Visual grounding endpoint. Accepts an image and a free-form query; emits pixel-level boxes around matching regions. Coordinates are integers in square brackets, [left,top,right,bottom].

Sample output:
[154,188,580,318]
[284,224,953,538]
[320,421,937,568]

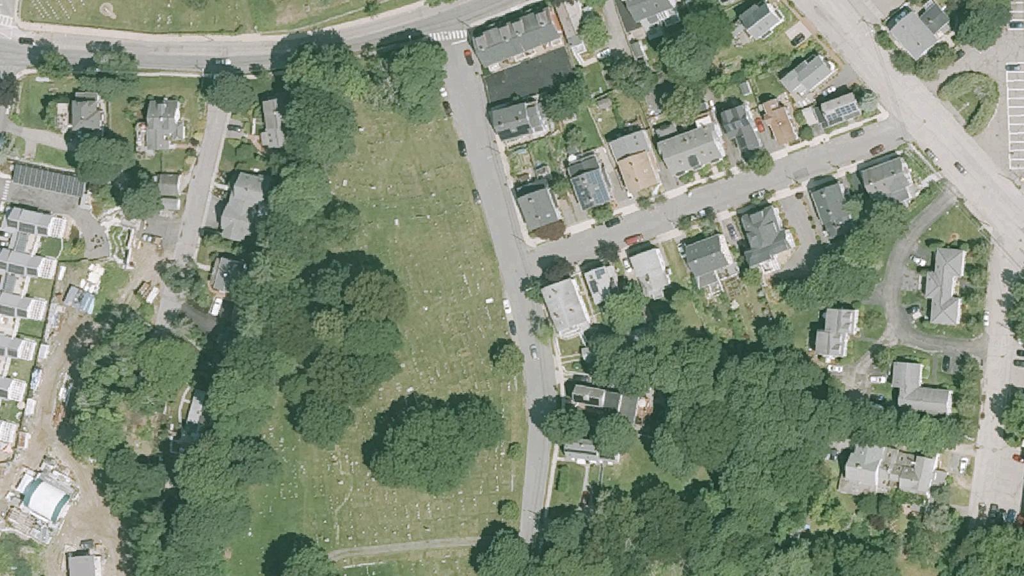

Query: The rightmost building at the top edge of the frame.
[890,3,951,60]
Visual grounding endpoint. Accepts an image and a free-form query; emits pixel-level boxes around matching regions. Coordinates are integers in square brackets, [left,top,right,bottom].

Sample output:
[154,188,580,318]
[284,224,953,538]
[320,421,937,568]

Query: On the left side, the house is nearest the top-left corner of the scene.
[72,92,105,130]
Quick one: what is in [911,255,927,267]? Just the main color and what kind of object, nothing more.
white vehicle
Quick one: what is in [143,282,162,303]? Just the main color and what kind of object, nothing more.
white vehicle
